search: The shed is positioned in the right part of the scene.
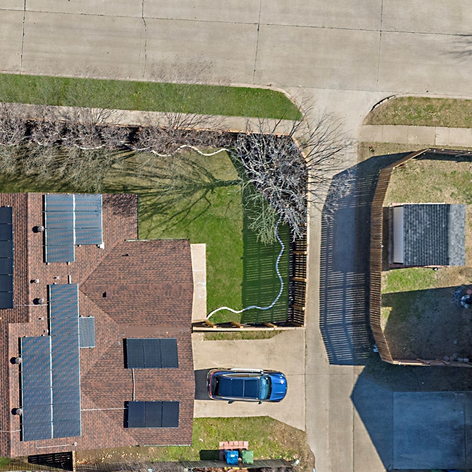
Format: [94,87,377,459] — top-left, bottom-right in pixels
[391,204,465,265]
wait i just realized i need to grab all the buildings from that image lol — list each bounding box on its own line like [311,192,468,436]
[0,191,194,458]
[391,204,465,265]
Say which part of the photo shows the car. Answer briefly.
bottom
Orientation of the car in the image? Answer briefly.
from left to right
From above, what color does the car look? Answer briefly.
blue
